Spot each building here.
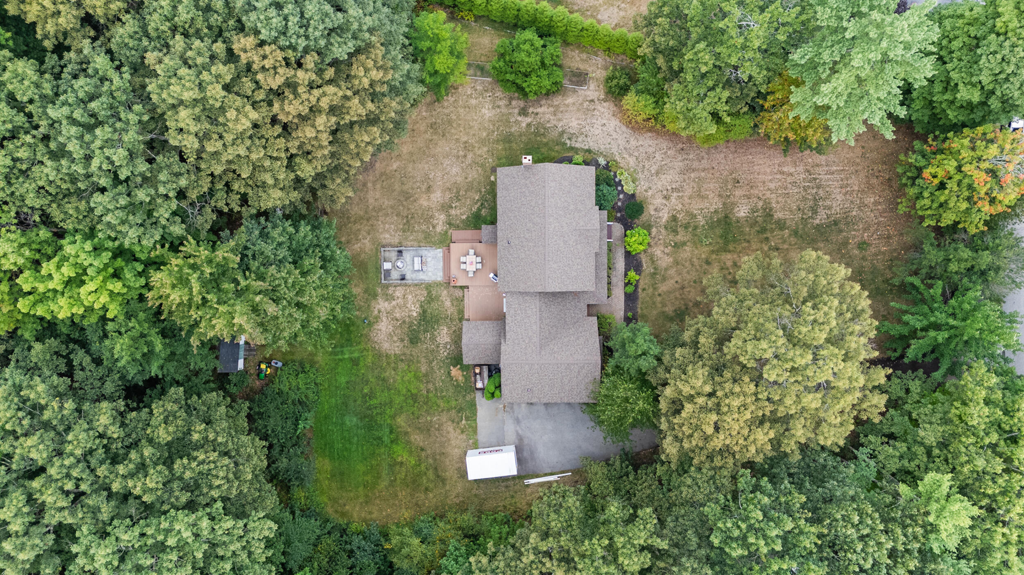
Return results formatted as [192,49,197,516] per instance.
[462,155,614,403]
[218,330,250,375]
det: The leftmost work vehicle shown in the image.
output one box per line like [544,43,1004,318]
[256,363,270,381]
